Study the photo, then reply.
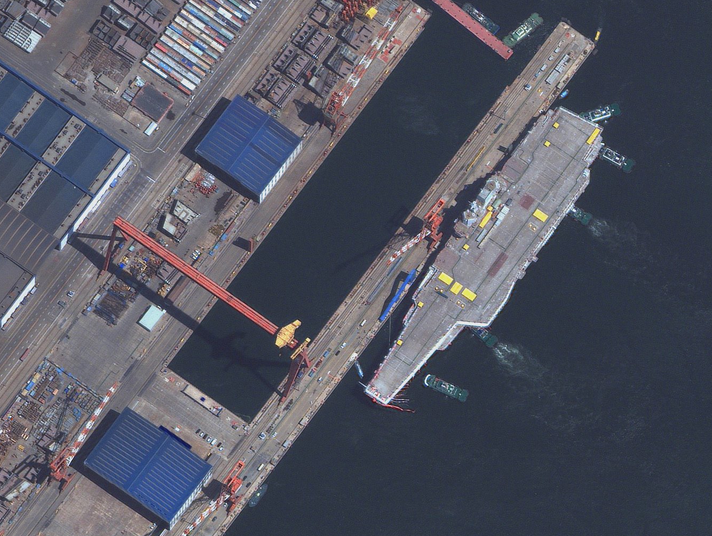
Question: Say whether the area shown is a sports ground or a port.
port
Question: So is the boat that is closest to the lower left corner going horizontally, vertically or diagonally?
diagonally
